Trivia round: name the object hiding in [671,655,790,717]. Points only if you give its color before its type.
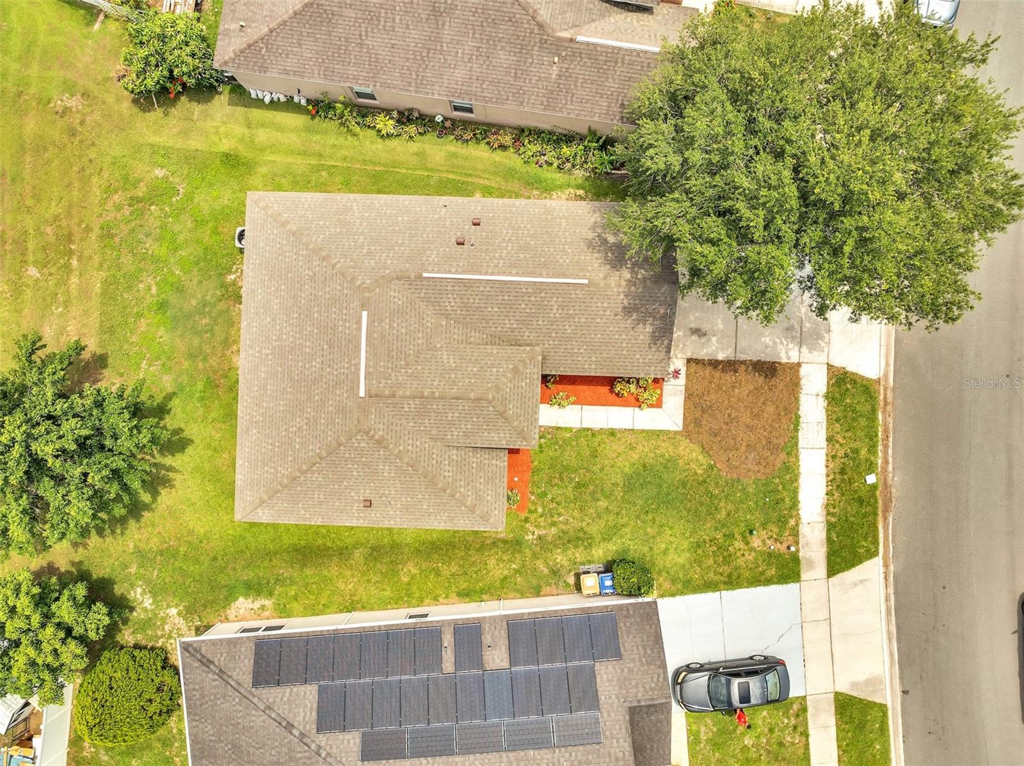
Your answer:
gray car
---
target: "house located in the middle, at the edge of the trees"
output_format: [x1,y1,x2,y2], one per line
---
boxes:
[233,188,680,533]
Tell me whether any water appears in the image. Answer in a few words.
No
